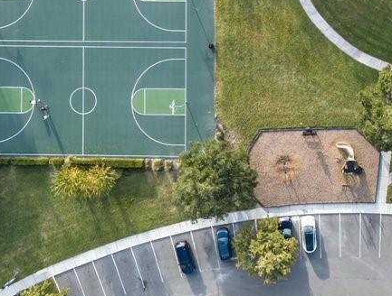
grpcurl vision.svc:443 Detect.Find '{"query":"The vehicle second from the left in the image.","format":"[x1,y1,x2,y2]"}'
[215,226,232,261]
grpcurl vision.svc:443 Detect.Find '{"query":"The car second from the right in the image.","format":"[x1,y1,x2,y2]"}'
[279,215,295,248]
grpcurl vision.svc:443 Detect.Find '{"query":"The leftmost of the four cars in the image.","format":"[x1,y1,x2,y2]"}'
[175,240,195,275]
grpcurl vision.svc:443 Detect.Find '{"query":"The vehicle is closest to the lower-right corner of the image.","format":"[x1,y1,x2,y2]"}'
[301,216,318,253]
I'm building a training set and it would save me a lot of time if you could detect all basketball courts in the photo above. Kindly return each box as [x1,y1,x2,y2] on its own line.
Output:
[0,0,186,43]
[0,47,186,156]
